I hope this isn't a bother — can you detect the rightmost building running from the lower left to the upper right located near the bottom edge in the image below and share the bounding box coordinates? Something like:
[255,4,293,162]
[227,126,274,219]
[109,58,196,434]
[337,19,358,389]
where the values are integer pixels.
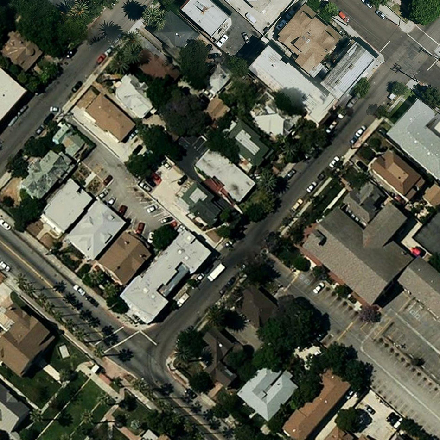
[282,368,350,440]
